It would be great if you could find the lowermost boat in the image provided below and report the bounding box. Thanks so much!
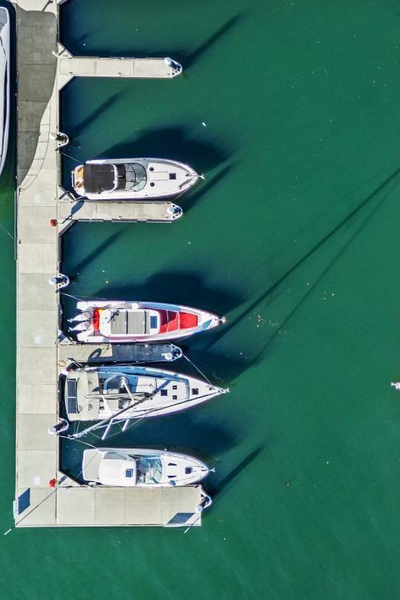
[84,445,217,488]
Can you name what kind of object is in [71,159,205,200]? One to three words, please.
boat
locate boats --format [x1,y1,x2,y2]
[84,445,217,488]
[0,6,15,194]
[69,301,228,342]
[60,367,228,438]
[71,159,205,200]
